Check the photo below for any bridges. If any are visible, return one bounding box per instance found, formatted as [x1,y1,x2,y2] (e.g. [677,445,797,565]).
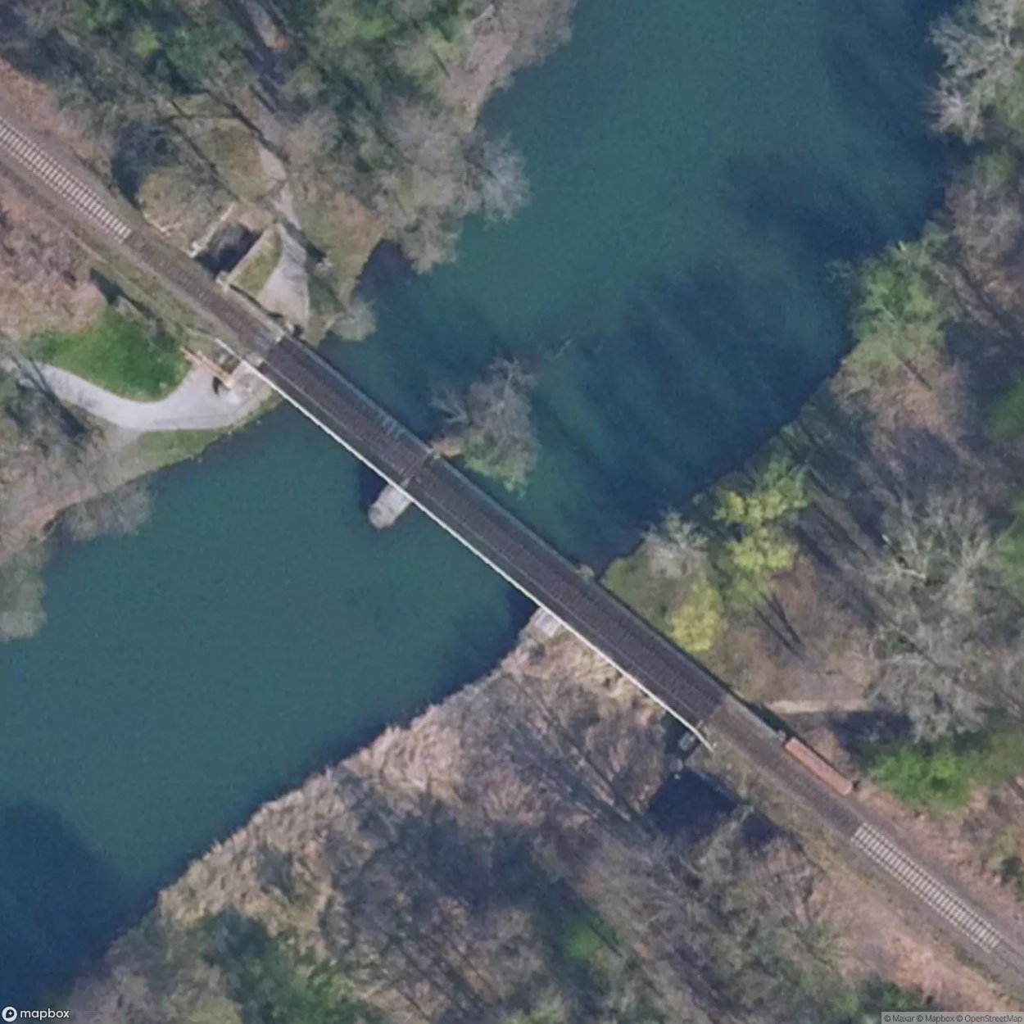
[217,284,796,787]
